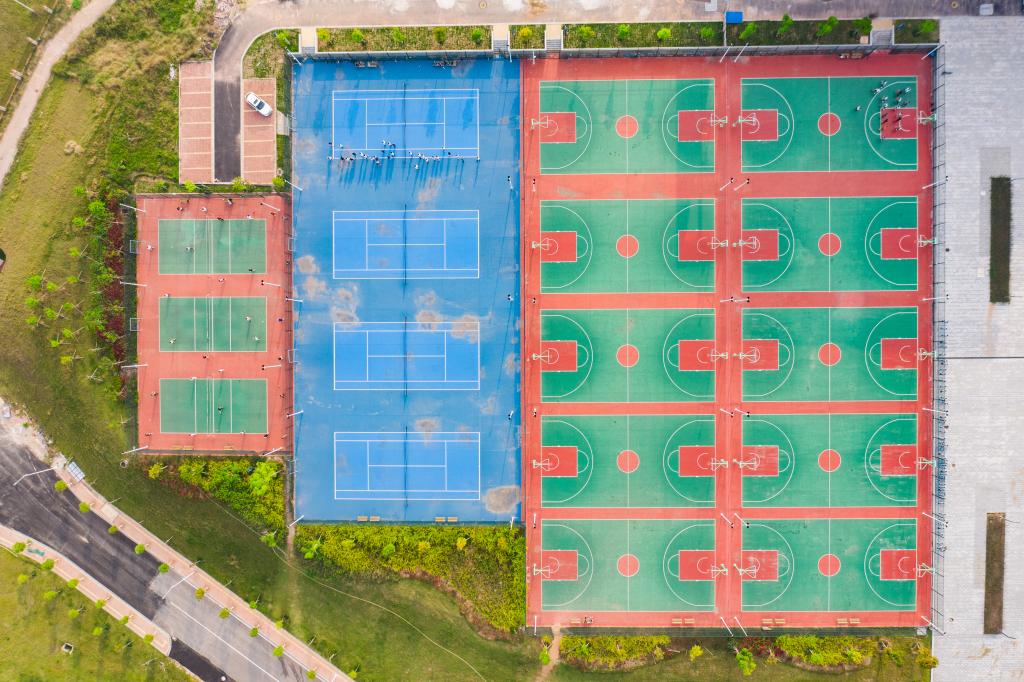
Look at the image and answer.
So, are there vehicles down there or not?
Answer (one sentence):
Yes, the picture does show a vehicle.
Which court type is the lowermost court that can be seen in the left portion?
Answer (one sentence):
In the photo, the lowermost court that can be seen in the left portion shows up as a tennis court.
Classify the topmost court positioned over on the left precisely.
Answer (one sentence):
Looking closely, the topmost court positioned over on the left is a tennis court.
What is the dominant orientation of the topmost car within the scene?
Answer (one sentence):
The topmost car runs on a diagonal in the image.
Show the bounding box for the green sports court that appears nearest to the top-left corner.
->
[159,219,267,275]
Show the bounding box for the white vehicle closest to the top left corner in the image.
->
[245,91,273,117]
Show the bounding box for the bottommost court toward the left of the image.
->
[334,432,480,500]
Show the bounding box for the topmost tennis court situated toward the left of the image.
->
[333,89,479,159]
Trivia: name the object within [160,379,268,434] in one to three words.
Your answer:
sports court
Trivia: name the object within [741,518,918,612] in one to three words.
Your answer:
basketball court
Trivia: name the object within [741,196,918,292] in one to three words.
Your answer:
basketball court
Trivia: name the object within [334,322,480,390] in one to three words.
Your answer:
tennis court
